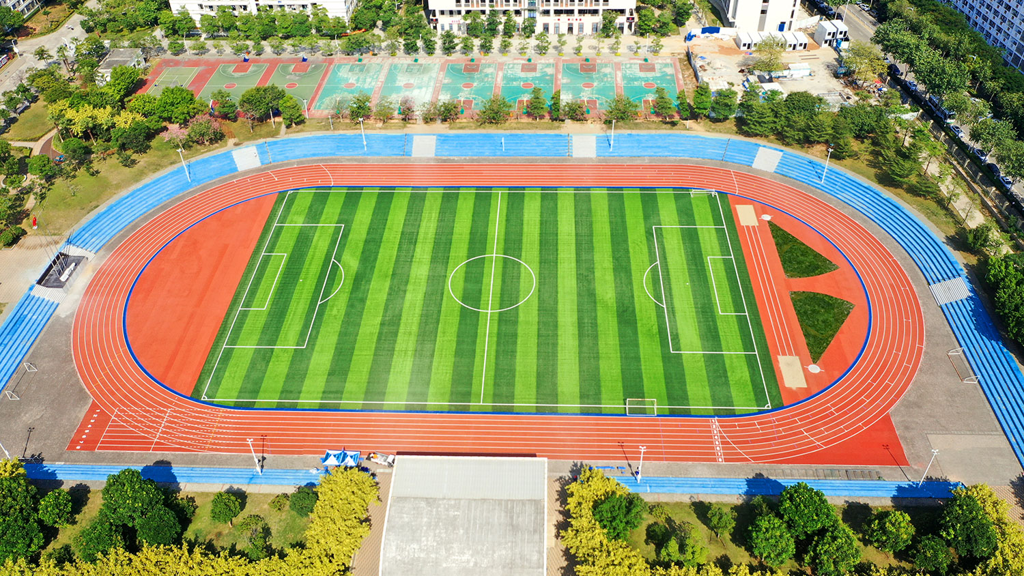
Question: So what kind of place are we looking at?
sports ground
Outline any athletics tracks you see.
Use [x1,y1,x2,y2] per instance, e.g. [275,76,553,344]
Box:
[65,164,923,467]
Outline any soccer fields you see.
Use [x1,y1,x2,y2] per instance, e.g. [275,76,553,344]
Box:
[191,187,783,414]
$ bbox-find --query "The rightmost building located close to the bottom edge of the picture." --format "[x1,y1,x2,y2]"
[378,455,549,576]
